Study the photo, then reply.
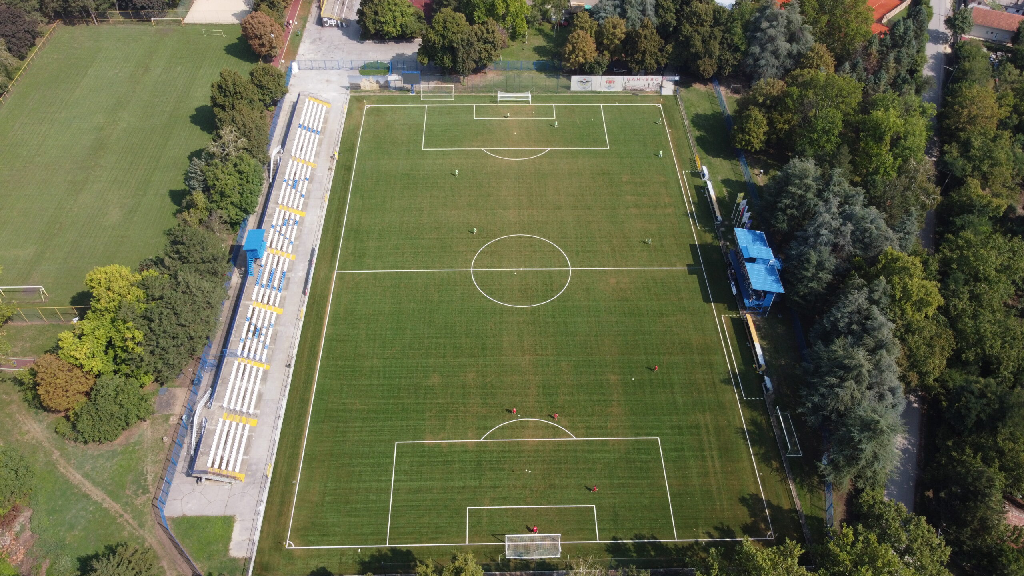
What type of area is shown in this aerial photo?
sports ground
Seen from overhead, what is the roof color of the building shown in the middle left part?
blue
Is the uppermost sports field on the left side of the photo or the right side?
left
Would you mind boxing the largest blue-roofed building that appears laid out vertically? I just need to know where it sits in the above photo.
[242,229,267,287]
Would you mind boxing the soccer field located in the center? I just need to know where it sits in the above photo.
[250,94,813,575]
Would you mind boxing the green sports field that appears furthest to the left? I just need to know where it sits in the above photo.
[0,25,259,313]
